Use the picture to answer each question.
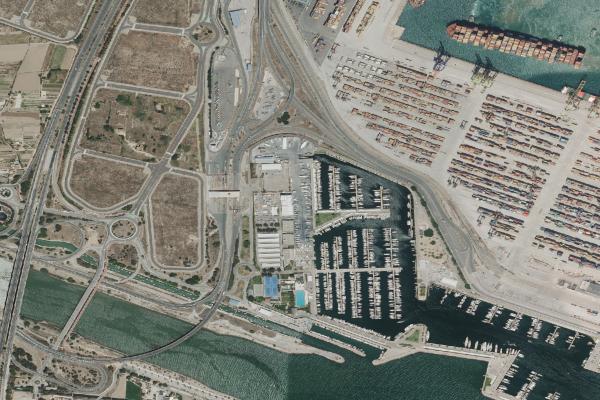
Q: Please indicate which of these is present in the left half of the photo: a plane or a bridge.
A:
bridge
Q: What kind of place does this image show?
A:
port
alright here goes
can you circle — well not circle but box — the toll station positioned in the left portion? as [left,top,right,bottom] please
[207,114,256,262]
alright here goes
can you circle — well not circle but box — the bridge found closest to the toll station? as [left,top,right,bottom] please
[118,262,232,362]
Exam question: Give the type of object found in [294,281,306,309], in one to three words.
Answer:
swimming pool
